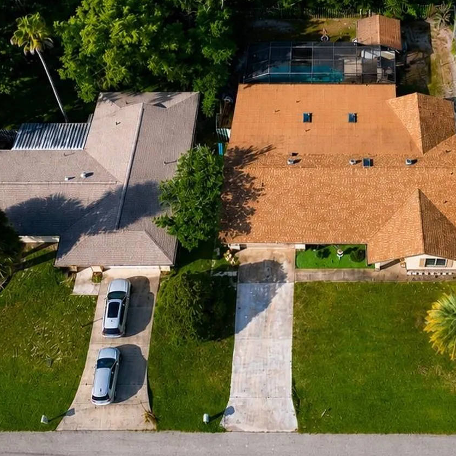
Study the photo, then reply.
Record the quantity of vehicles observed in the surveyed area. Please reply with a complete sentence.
Altogether the scene contains 2 vehicles.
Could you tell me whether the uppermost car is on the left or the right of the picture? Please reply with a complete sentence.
It is on the left.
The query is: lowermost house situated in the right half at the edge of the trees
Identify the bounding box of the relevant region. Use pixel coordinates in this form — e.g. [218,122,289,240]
[222,83,456,272]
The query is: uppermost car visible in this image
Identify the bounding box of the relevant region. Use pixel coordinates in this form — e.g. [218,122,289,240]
[101,280,132,338]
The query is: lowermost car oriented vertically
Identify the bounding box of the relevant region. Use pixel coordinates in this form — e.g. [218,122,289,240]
[90,349,122,406]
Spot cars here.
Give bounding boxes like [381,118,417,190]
[101,280,132,338]
[90,349,122,406]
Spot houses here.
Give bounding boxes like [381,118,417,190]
[222,83,456,272]
[0,91,197,284]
